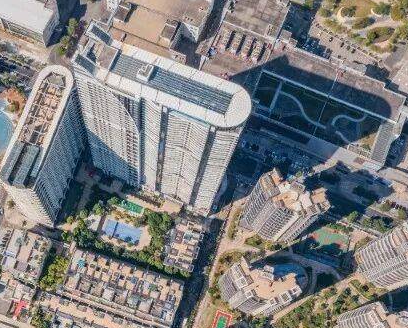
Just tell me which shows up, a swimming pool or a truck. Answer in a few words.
swimming pool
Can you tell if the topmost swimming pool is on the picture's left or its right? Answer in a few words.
left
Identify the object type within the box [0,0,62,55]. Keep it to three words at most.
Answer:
building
